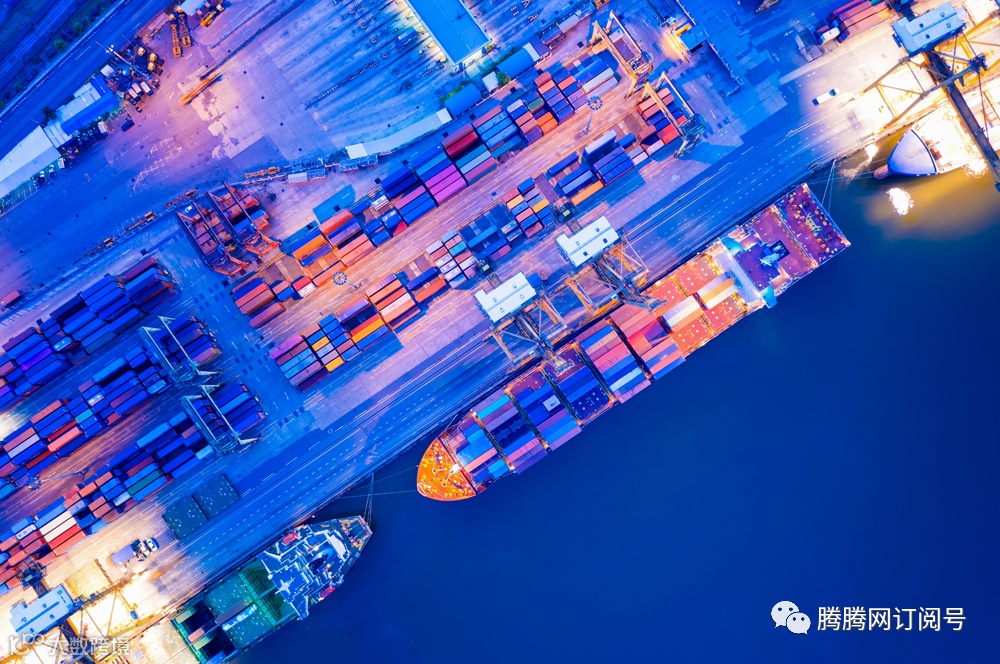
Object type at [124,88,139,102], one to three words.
vehicle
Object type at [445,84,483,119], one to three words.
shed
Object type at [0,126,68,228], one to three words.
building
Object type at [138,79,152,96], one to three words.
vehicle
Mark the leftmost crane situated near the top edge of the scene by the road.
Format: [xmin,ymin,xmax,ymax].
[585,4,662,100]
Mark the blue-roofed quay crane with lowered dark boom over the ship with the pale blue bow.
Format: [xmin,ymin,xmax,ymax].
[846,0,1000,193]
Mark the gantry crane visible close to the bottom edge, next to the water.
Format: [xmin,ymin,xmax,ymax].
[13,554,171,664]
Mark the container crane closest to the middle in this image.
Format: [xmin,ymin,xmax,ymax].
[466,251,571,375]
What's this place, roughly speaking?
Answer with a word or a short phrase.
port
